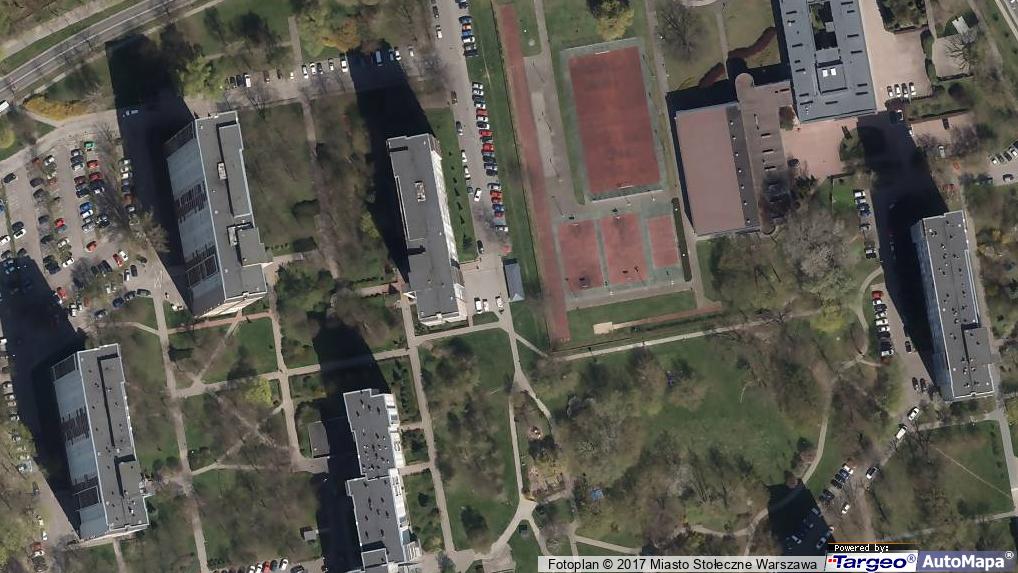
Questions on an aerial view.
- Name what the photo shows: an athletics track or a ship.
athletics track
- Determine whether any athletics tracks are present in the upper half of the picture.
Yes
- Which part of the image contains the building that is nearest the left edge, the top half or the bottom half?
bottom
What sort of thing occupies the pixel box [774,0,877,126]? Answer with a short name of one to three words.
building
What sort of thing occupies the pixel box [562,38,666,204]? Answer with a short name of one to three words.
sports court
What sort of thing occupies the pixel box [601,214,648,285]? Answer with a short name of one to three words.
sports court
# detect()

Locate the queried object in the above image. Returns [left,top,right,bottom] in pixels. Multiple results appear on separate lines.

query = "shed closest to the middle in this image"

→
[505,263,524,302]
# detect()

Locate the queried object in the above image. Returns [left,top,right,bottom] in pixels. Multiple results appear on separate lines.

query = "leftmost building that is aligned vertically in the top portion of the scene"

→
[175,111,271,312]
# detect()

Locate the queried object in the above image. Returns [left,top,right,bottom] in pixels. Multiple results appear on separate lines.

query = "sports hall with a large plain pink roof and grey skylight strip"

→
[671,102,760,239]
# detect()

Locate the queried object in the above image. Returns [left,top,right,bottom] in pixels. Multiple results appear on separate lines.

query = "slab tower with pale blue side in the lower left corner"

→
[57,343,149,543]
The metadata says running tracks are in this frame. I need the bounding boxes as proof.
[501,3,570,340]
